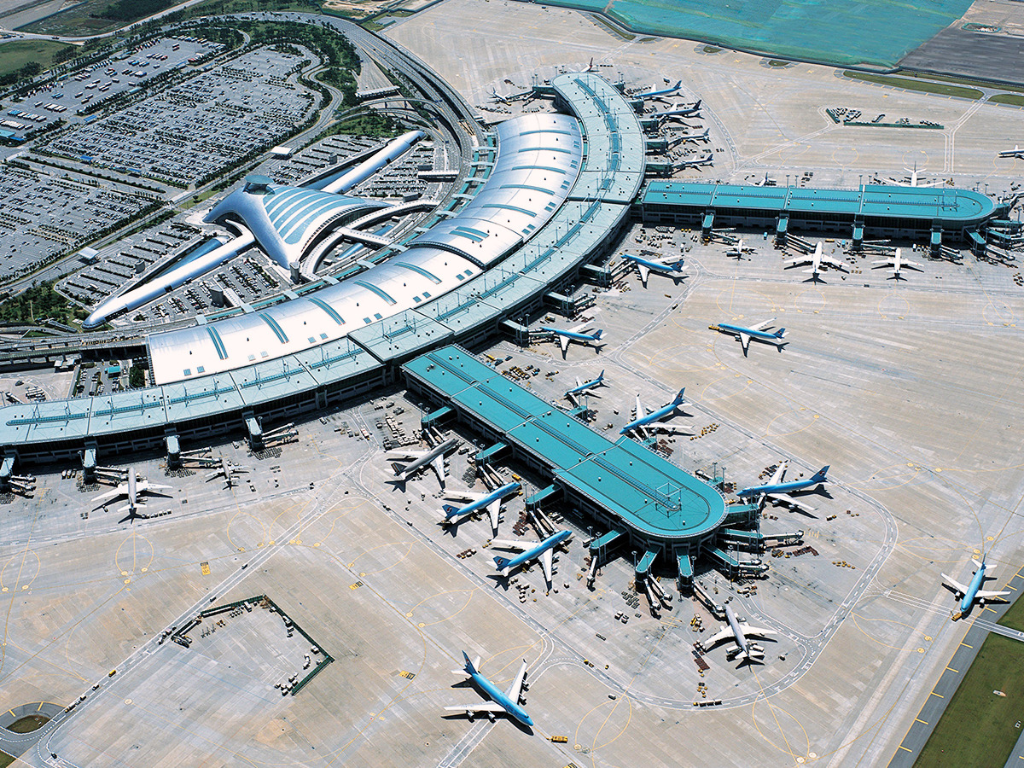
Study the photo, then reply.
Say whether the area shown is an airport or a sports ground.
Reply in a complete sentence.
It's an airport.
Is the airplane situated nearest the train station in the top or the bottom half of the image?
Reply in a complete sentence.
The airplane situated nearest the train station is in the top half of the image.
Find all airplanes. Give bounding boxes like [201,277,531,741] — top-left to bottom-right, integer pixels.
[652,99,705,121]
[481,83,516,105]
[385,437,459,479]
[92,465,173,510]
[437,482,519,526]
[747,169,779,185]
[722,242,757,257]
[634,80,685,100]
[678,153,711,168]
[204,458,248,483]
[487,529,571,578]
[737,458,831,508]
[718,316,788,347]
[677,129,706,144]
[884,167,944,187]
[785,243,850,271]
[622,252,687,279]
[444,653,535,726]
[564,372,606,396]
[942,554,1009,612]
[872,248,924,272]
[544,318,607,349]
[619,388,693,434]
[704,605,776,657]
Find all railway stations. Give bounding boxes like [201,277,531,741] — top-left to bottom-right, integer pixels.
[93,132,459,329]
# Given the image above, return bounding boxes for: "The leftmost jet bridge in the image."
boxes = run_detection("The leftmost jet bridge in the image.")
[0,453,40,495]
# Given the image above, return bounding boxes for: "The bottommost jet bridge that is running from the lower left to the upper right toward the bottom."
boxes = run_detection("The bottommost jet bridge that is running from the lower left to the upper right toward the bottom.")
[584,523,635,586]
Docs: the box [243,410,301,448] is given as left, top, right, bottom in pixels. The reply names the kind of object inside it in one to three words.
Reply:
jet bridge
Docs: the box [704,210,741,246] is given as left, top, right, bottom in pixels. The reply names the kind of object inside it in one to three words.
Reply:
jet bridge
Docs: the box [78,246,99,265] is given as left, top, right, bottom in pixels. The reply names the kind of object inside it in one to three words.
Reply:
toll station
